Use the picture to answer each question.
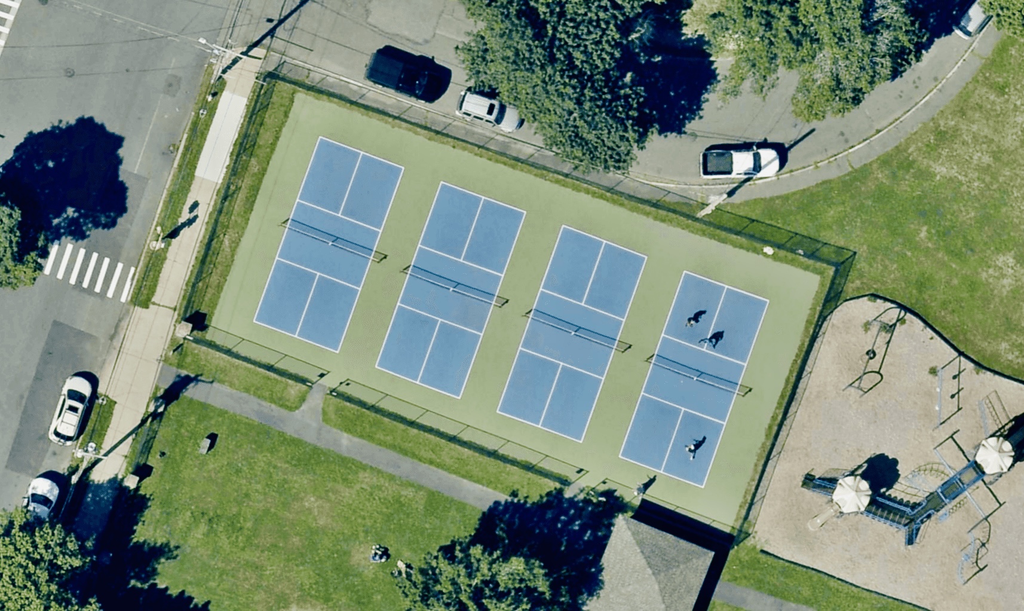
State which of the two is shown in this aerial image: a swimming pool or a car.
car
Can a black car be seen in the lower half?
No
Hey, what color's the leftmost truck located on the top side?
black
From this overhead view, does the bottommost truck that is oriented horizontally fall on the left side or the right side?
right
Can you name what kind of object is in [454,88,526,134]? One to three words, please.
car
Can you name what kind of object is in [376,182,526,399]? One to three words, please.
sports court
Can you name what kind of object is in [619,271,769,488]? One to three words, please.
sports court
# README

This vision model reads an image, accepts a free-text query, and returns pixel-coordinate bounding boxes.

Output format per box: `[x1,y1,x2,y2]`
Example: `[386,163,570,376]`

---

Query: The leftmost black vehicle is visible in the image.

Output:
[363,47,451,102]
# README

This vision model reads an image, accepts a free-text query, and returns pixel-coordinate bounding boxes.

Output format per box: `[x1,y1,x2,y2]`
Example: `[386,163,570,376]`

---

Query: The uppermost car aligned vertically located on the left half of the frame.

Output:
[49,375,90,450]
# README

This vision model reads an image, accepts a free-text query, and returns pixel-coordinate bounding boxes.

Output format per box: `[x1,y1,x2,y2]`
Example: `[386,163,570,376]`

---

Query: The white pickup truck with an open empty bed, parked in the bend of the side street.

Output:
[699,146,782,182]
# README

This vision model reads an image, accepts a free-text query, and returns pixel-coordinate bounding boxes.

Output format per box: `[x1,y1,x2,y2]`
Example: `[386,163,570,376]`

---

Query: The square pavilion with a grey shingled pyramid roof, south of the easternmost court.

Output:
[584,514,714,611]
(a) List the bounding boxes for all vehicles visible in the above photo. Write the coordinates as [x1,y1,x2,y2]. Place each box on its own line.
[363,47,451,102]
[699,146,782,182]
[49,375,90,450]
[9,478,52,543]
[952,0,994,38]
[454,88,526,134]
